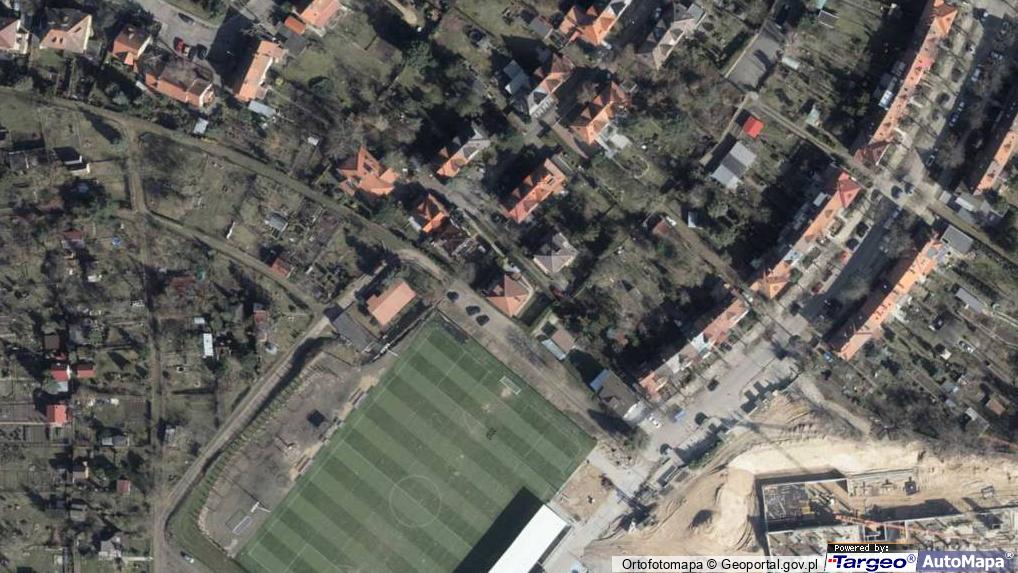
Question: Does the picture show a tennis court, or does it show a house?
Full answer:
Looking from above, you can make out a house.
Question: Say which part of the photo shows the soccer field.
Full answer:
Look in the bottom portion of the view to spot the soccer field.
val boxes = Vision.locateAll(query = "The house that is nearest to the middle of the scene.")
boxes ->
[490,276,531,316]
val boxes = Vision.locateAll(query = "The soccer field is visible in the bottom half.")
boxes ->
[230,311,599,573]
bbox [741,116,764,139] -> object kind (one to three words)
shed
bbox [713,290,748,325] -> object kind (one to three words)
house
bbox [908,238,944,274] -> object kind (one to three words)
house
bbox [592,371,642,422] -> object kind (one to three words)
building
